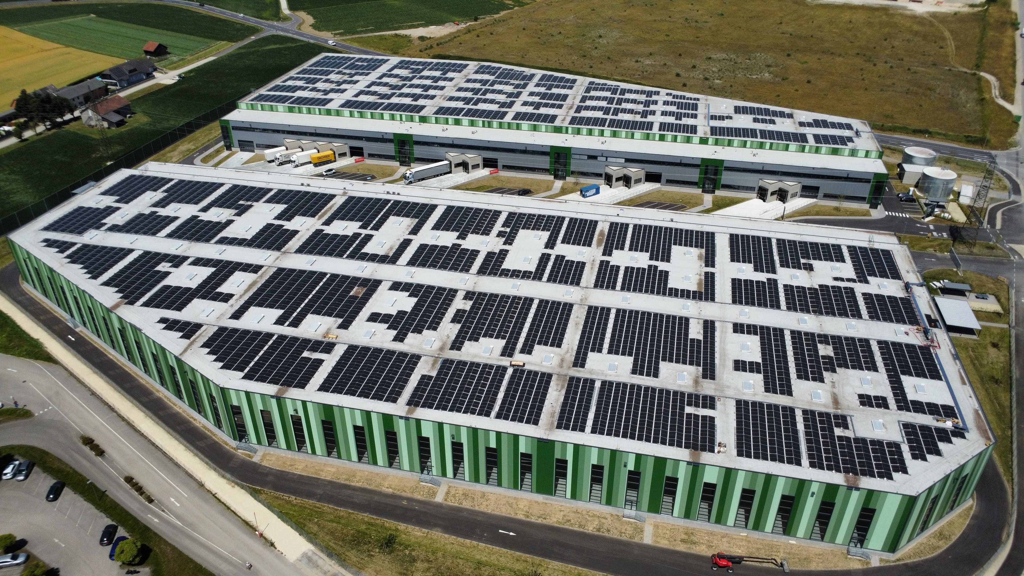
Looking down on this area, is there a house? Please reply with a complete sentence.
Yes, there's a house down there.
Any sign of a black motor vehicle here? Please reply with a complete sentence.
Yes, looking at the shot, I can spot a black motor vehicle.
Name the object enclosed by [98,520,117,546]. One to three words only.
car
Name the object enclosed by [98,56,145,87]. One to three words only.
house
